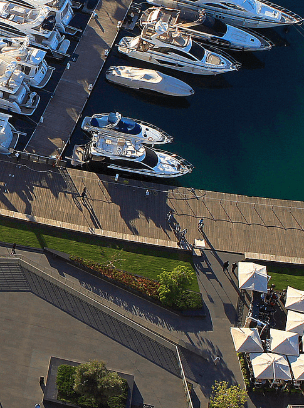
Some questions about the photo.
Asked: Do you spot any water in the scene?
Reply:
Yes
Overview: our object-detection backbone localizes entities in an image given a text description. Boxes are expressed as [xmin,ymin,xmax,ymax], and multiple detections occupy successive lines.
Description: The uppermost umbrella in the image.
[236,261,270,288]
